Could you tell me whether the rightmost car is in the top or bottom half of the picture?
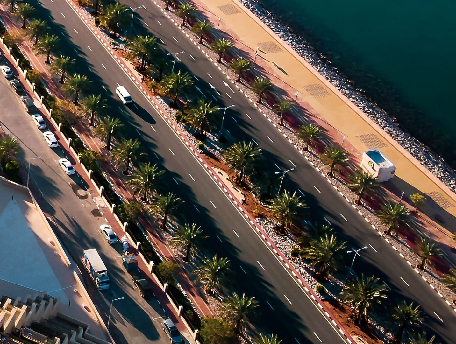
bottom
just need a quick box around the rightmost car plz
[154,313,177,338]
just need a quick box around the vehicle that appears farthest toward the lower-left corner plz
[81,242,109,283]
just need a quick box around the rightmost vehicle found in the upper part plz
[116,84,134,105]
